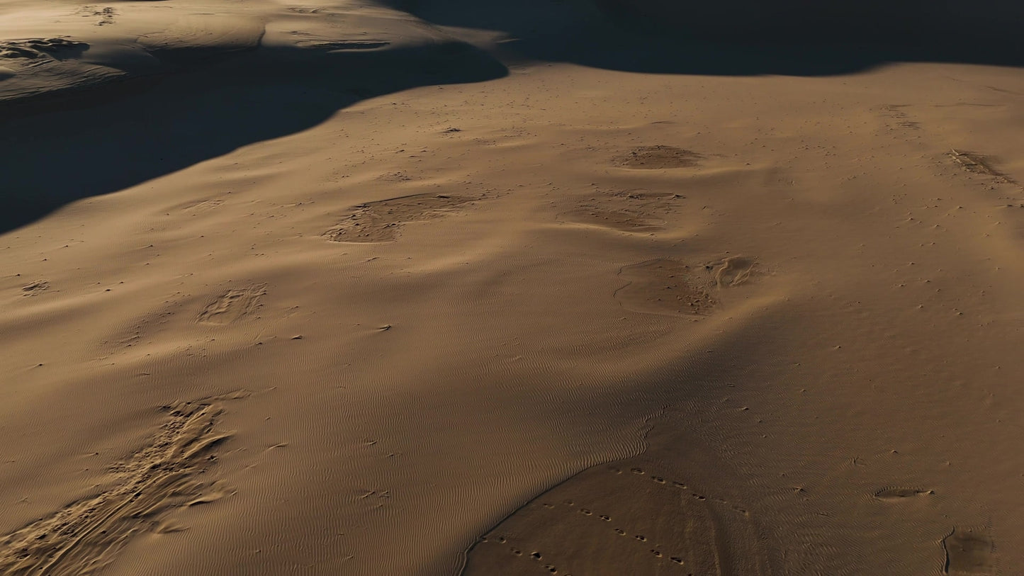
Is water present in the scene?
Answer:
No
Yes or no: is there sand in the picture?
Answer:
Yes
